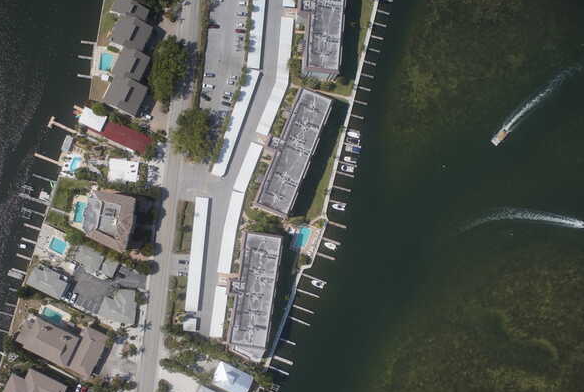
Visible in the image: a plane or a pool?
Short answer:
pool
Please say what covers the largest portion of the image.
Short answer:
water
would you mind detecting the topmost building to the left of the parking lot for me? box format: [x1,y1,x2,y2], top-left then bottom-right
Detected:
[111,0,151,24]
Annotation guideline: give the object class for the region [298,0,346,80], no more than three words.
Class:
building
